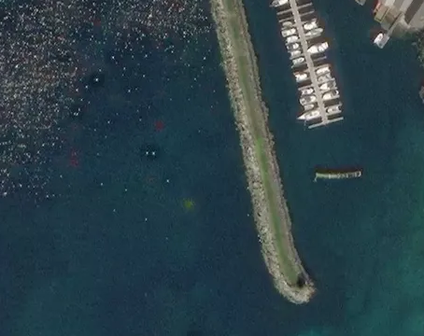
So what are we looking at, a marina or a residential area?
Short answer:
marina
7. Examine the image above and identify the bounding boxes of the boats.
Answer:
[290,57,306,65]
[305,27,325,37]
[288,50,301,57]
[272,0,291,7]
[307,40,331,54]
[317,73,334,82]
[316,67,332,76]
[294,73,308,82]
[285,36,299,44]
[285,43,300,51]
[302,21,318,30]
[302,104,316,111]
[299,88,314,95]
[296,109,323,124]
[322,91,340,101]
[299,95,317,105]
[375,32,385,46]
[319,81,337,91]
[280,22,294,30]
[280,28,297,37]
[325,105,342,113]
